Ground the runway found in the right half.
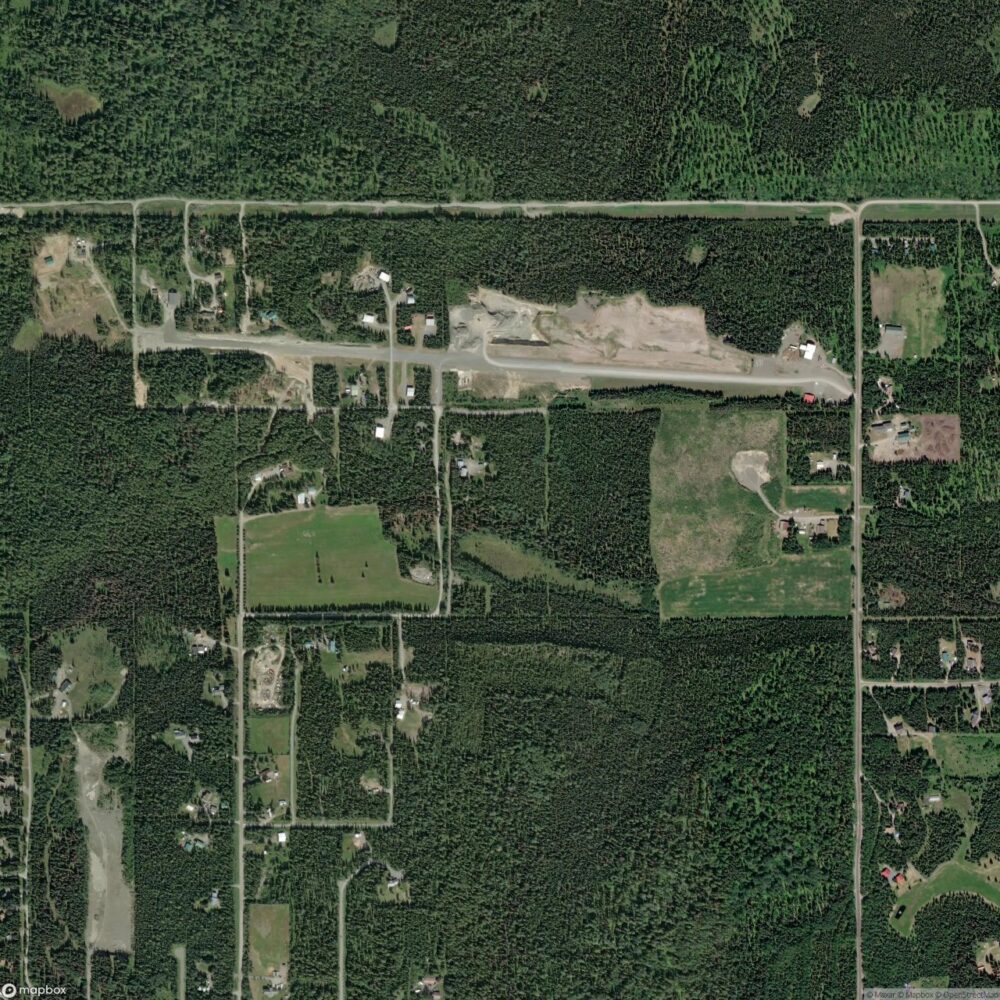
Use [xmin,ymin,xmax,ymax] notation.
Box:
[492,360,815,384]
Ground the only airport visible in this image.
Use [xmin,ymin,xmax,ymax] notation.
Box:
[133,303,857,408]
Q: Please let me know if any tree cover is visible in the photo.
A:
Yes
